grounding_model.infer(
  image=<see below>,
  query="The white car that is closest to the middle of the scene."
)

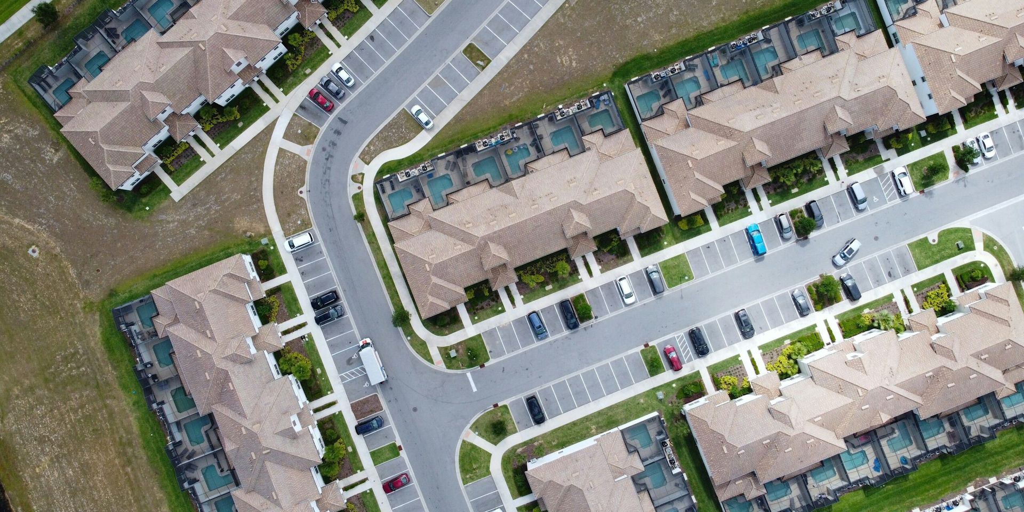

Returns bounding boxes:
[616,276,635,304]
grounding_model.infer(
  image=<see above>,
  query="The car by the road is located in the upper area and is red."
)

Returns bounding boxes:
[308,87,335,113]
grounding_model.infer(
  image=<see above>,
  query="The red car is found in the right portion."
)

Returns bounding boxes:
[664,344,683,372]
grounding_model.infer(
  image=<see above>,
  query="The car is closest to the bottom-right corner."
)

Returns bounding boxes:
[839,273,863,303]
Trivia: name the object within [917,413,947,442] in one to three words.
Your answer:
swimming pool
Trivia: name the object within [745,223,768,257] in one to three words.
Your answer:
vehicle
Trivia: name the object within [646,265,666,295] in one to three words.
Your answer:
car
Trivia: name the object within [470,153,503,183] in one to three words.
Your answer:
swimming pool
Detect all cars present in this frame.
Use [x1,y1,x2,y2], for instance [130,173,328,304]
[791,288,811,317]
[616,276,635,304]
[847,181,868,211]
[975,131,996,161]
[664,344,683,372]
[646,265,666,295]
[354,415,385,435]
[331,61,355,89]
[382,474,411,492]
[775,213,794,239]
[962,136,983,165]
[893,167,916,196]
[311,291,340,310]
[284,232,315,252]
[320,75,346,101]
[560,299,580,330]
[839,273,863,303]
[804,199,824,229]
[314,306,345,326]
[308,87,335,113]
[832,238,861,265]
[528,311,547,339]
[411,104,434,131]
[734,309,754,339]
[689,326,709,357]
[526,395,545,425]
